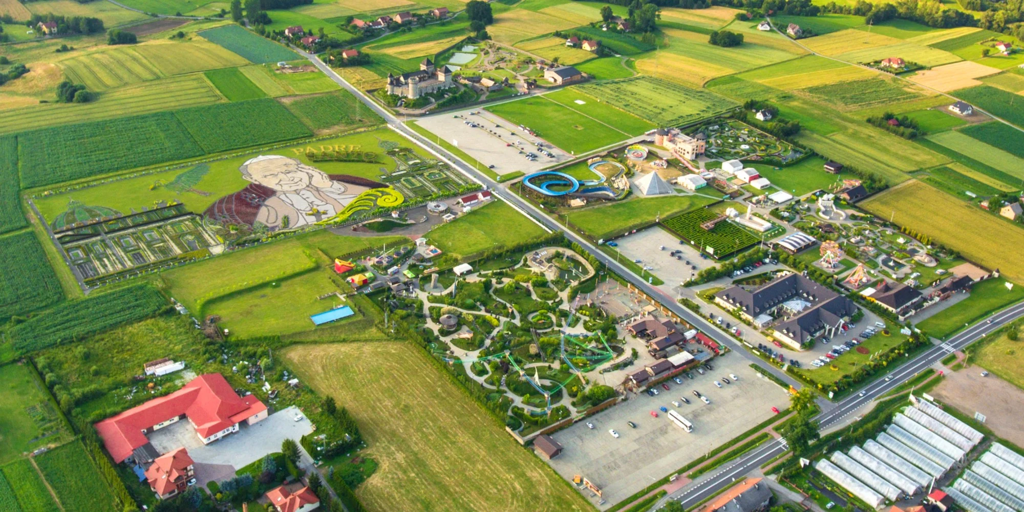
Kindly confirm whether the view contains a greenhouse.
Yes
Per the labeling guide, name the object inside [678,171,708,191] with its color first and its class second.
white tent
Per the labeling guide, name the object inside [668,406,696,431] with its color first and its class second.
white bus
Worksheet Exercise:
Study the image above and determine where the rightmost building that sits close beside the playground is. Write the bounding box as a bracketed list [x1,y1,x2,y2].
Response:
[714,268,867,350]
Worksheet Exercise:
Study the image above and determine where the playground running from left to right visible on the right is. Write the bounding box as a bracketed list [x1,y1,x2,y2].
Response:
[577,278,684,324]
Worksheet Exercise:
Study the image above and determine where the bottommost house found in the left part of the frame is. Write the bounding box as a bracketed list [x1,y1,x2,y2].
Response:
[265,483,318,512]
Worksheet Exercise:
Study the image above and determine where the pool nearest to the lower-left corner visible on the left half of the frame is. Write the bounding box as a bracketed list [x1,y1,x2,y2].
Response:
[309,303,355,325]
